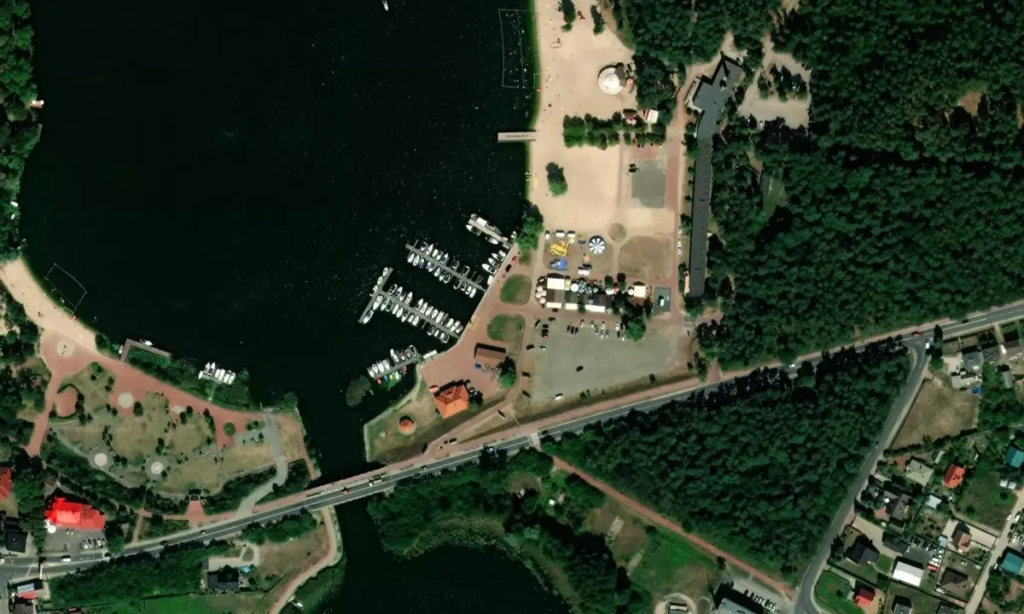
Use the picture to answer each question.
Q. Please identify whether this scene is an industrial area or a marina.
marina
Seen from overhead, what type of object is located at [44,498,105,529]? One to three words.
building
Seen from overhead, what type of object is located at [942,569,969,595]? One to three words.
house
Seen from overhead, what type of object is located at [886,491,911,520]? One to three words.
house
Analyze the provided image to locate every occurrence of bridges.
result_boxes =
[311,467,384,513]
